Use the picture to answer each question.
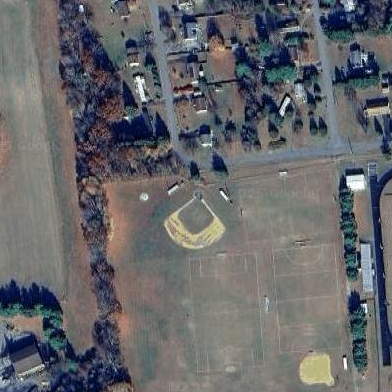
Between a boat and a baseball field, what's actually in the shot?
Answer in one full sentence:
It is a baseball field that can be seen here.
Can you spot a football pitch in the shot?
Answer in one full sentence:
Yes, the picture does show a football pitch.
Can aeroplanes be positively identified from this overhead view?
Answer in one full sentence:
No, the picture doesn't show any aeroplane.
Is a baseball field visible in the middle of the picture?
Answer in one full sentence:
Yes, a baseball field is visible in the middle of the picture.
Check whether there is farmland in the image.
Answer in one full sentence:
Yes, farmland shows up in the scene.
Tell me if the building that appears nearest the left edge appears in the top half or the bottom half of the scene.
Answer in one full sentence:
It is in the bottom half that the building that appears nearest the left edge appears.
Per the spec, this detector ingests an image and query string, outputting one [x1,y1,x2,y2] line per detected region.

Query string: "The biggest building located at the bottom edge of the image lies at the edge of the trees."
[9,344,45,379]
